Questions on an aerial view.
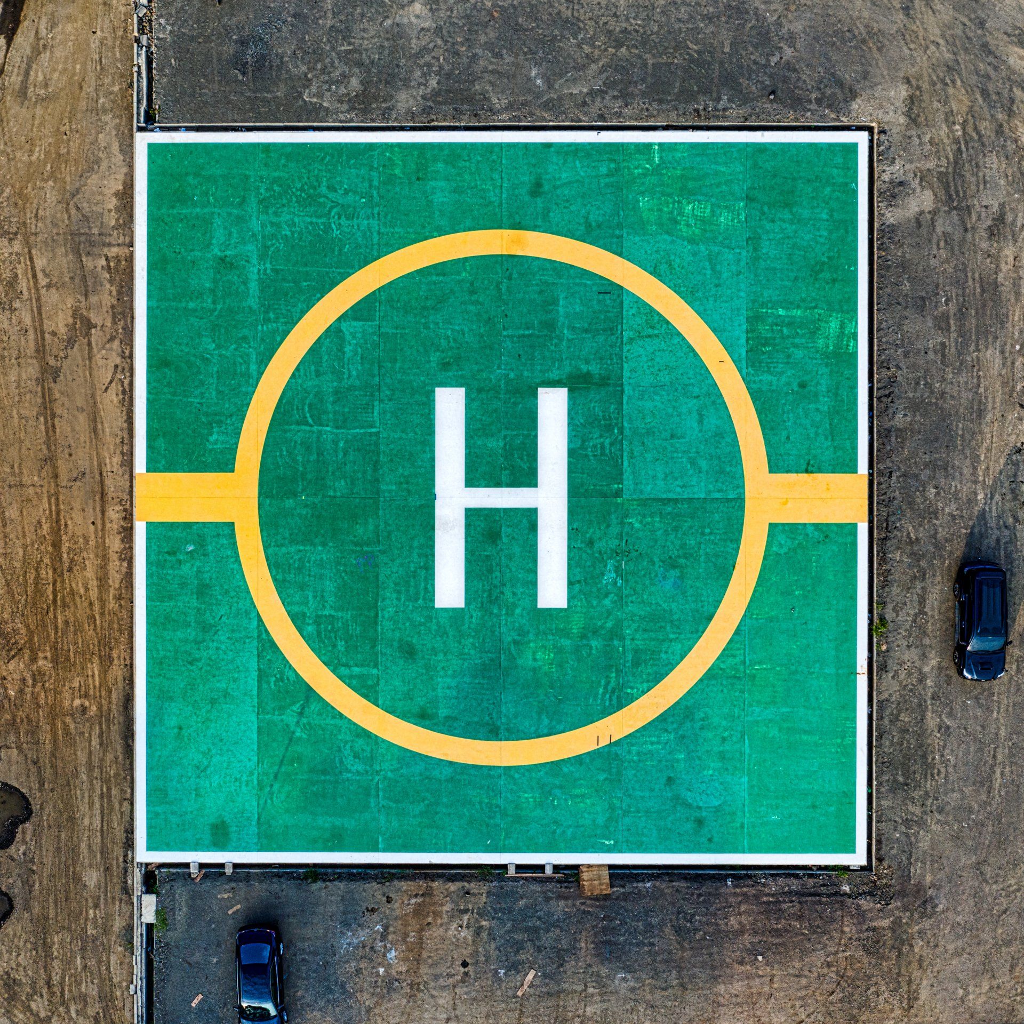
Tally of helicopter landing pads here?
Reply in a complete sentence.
In total, there is 1 helicopter landing pad in the scene.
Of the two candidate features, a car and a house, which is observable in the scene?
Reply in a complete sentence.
I can see a car in this picture.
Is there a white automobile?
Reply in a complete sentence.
No, there appears to be no white automobile in this shot.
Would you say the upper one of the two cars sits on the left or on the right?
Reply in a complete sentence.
The upper one of the two cars is on the right side of the image.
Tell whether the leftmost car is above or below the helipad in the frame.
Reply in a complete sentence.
From this view, the leftmost car can be seen below the helipad.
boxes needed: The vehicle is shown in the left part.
[232,923,290,1024]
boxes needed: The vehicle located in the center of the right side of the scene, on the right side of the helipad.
[952,559,1015,682]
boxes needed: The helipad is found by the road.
[136,131,868,864]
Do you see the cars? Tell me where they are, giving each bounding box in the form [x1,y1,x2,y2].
[952,559,1015,682]
[232,923,290,1024]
